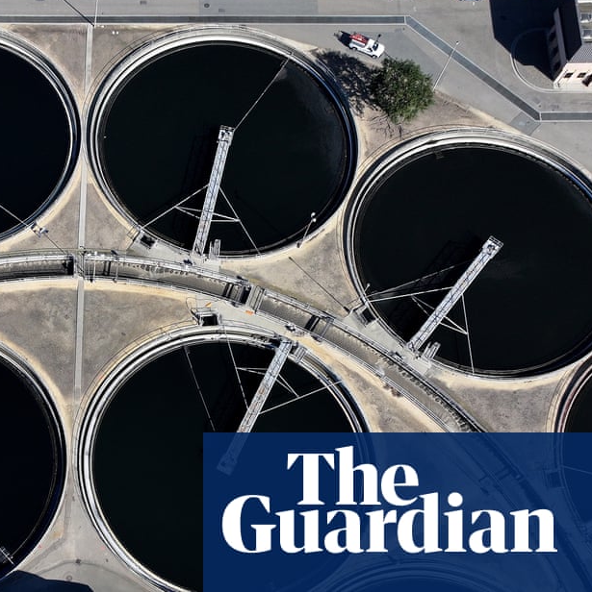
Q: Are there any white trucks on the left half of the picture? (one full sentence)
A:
No, the scene shows no white truck on the left half of the picture.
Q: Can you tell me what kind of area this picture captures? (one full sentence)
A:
It's an industrial area.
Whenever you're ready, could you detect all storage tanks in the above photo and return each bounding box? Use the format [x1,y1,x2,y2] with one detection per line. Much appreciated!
[73,318,386,592]
[0,335,72,587]
[548,354,592,554]
[85,20,362,262]
[0,24,85,241]
[339,123,592,385]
